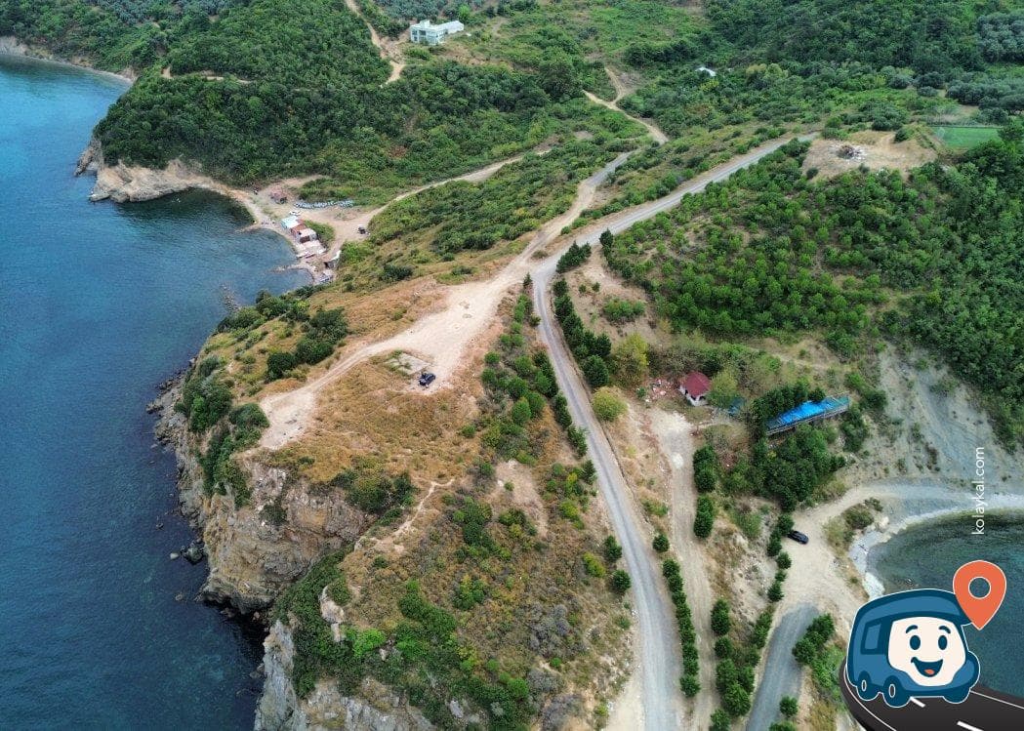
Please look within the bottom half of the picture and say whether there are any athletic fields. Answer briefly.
No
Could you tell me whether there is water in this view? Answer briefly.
Yes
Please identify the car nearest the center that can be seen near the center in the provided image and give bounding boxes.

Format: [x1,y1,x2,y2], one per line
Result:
[416,366,436,383]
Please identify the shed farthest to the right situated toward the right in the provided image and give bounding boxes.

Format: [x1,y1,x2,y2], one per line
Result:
[761,392,850,436]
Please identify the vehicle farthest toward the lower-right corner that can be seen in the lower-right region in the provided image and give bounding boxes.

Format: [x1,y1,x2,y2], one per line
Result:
[787,528,811,543]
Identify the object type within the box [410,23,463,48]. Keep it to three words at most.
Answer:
house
